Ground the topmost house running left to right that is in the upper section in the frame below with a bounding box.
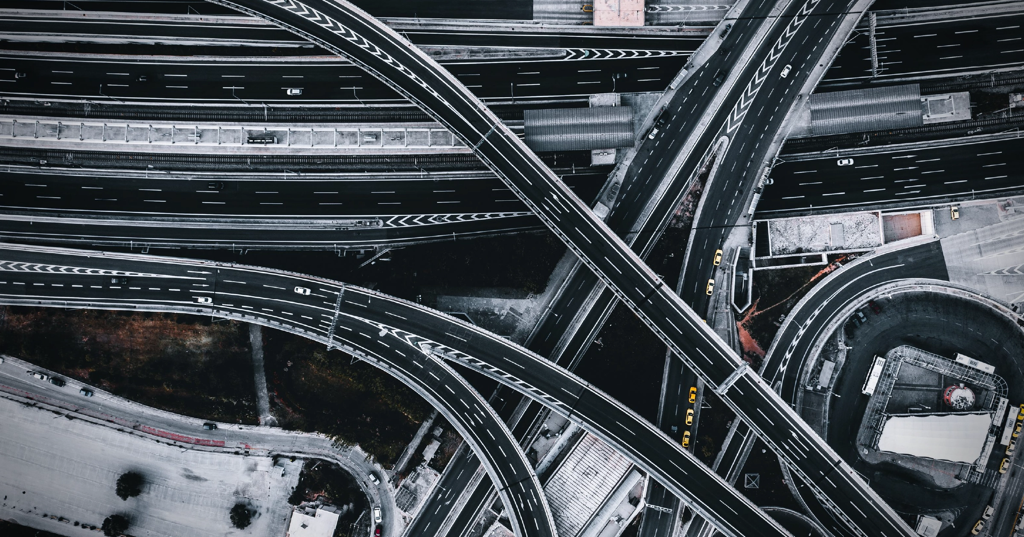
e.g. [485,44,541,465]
[587,92,620,107]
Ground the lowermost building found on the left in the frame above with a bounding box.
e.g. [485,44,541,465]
[288,502,343,537]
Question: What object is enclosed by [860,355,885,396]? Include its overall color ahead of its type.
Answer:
white bus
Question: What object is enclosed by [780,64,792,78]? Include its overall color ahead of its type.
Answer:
white vehicle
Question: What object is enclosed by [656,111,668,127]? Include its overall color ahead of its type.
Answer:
black vehicle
